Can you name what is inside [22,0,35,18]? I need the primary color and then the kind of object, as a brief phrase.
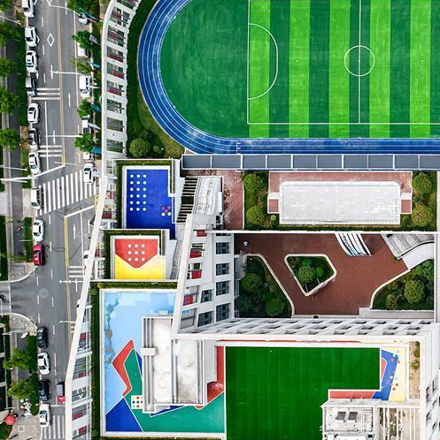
white vehicle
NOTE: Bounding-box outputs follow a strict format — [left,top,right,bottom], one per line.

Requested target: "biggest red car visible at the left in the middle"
[34,244,47,266]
